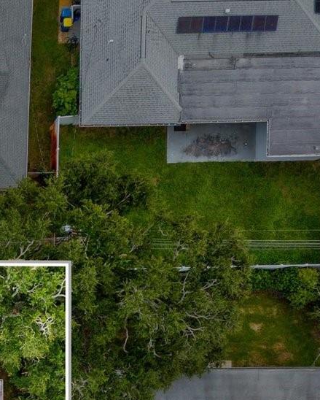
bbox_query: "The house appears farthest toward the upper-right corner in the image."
[76,0,320,160]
